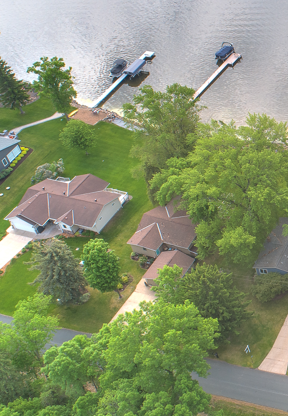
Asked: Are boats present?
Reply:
Yes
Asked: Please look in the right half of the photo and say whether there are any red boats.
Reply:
No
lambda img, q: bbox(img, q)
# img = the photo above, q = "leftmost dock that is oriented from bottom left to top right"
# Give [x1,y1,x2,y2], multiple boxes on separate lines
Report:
[90,51,152,108]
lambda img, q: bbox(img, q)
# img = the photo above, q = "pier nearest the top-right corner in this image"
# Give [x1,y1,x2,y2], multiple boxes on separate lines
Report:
[185,60,238,114]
